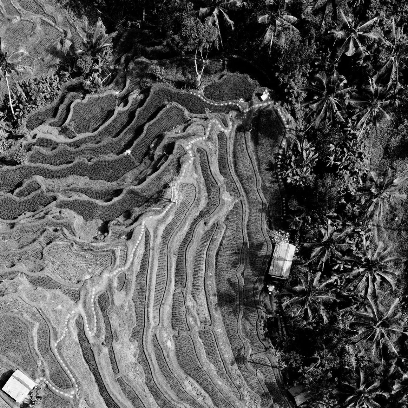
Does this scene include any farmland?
Yes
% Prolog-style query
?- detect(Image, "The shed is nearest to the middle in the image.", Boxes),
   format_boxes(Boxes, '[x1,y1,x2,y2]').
[267,243,295,281]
